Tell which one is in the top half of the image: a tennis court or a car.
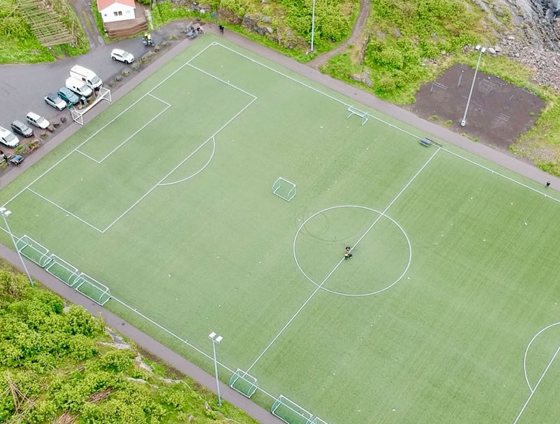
car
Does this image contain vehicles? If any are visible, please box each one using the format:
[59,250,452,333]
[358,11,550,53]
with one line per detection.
[0,127,19,149]
[147,35,155,46]
[9,119,35,140]
[66,76,94,99]
[110,49,135,66]
[43,93,68,112]
[57,86,80,104]
[70,63,103,92]
[142,34,149,44]
[9,153,26,167]
[26,111,50,131]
